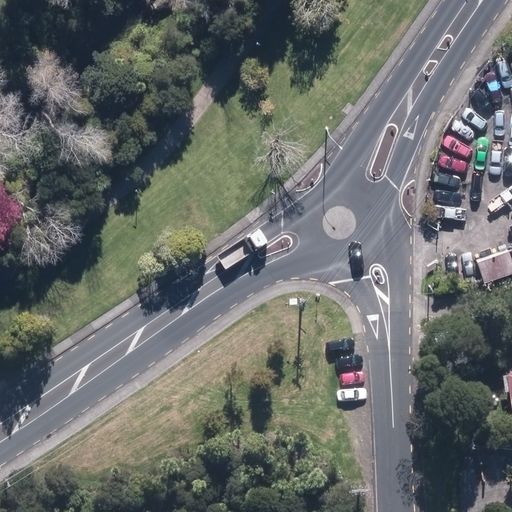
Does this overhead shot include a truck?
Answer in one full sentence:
Yes, a truck appears in the view.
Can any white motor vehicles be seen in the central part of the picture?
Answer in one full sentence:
Yes, a white motor vehicle can be seen in the central part of the picture.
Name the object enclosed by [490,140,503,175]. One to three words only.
vehicle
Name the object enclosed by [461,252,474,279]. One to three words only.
vehicle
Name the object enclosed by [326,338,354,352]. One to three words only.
car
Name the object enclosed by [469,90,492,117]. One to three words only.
car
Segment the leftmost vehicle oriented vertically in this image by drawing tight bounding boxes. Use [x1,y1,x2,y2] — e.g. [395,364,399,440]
[348,241,362,271]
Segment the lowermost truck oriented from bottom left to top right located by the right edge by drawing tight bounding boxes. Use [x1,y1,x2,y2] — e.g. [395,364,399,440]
[486,186,512,215]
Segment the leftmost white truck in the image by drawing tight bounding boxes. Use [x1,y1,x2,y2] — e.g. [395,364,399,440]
[218,228,268,268]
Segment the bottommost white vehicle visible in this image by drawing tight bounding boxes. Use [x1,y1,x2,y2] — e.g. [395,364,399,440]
[337,388,367,401]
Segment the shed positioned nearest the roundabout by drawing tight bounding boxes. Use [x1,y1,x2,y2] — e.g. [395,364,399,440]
[474,249,512,286]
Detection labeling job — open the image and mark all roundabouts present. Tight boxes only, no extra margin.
[322,206,356,240]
